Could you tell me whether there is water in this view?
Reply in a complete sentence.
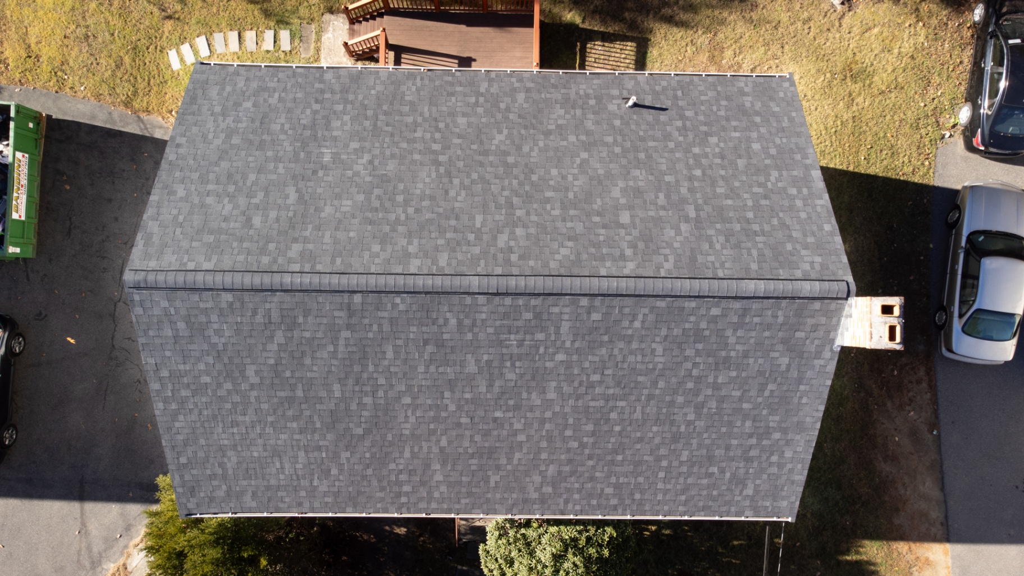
No, there is no water in the image.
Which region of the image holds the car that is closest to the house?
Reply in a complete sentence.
The car that is closest to the house appears toward the right of the photo.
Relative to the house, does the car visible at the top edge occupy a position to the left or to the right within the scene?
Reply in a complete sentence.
To the right of the house is where the car visible at the top edge appears.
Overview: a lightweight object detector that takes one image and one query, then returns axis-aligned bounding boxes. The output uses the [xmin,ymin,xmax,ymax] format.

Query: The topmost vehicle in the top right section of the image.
[954,0,1024,162]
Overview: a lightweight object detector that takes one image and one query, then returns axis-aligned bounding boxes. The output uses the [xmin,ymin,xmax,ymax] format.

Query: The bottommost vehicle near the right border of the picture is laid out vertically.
[930,177,1024,366]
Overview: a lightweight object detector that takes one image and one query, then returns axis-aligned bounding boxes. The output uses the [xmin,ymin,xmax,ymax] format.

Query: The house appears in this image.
[123,60,905,522]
